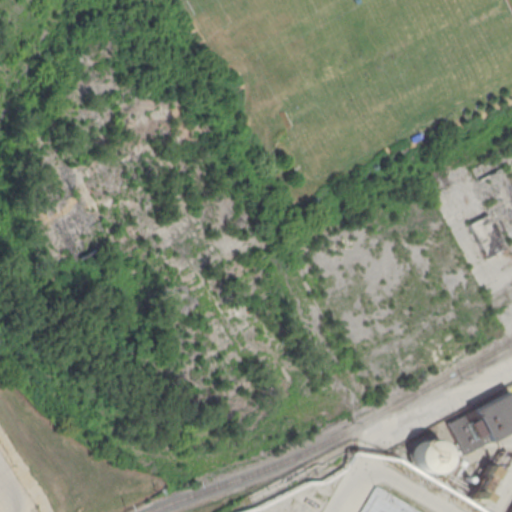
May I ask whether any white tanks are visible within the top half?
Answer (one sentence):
No, I see no white tank within the top half.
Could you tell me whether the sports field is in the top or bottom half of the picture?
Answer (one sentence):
The top half of the photo is where the sports field is.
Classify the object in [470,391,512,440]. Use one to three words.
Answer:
building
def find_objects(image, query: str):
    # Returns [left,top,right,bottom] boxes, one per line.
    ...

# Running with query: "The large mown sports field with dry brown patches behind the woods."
[185,0,512,204]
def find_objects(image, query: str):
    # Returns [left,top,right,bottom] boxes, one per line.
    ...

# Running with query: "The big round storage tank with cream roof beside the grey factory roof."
[413,438,460,478]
